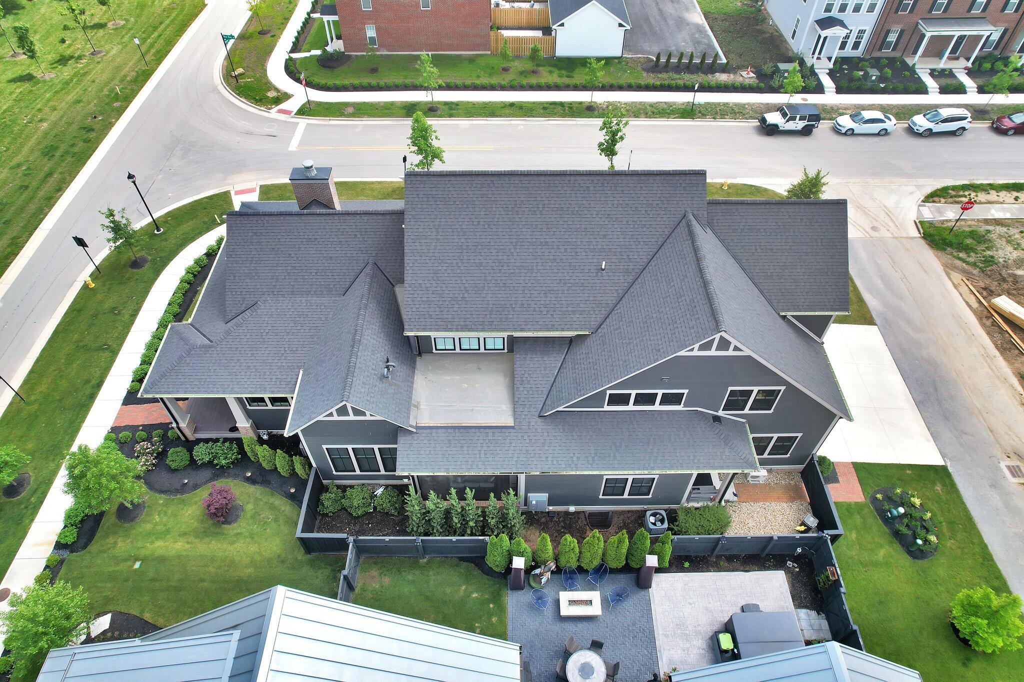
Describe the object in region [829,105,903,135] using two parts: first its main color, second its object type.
white car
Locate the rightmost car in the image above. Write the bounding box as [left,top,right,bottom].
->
[985,105,1024,135]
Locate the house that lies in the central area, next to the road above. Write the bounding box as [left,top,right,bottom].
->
[138,156,856,515]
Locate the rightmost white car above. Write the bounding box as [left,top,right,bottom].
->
[902,102,977,135]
